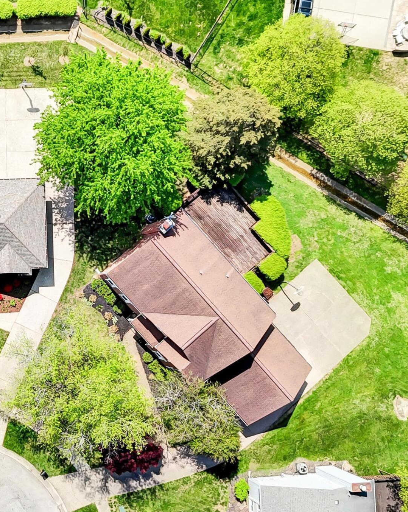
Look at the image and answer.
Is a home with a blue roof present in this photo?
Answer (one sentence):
No, the frame has no home with a blue roof in it.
